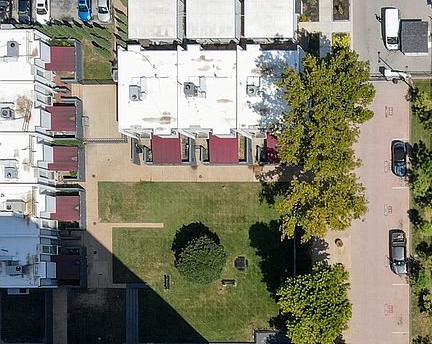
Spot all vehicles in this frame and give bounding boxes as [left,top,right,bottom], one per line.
[392,140,408,176]
[34,0,52,25]
[382,4,399,52]
[390,232,407,274]
[76,0,94,23]
[0,0,15,26]
[386,67,407,81]
[96,0,112,23]
[15,0,34,26]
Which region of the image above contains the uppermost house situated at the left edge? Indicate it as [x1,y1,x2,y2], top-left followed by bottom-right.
[0,28,82,89]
